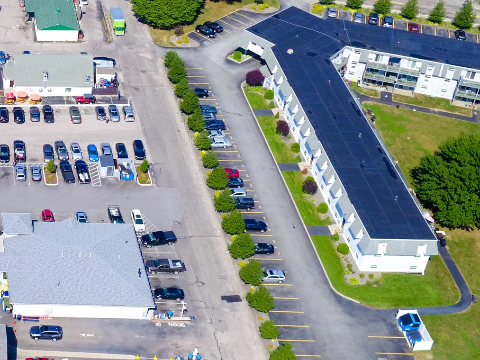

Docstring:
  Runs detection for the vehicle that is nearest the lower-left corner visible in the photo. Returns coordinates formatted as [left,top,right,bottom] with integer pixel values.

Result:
[30,325,62,343]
